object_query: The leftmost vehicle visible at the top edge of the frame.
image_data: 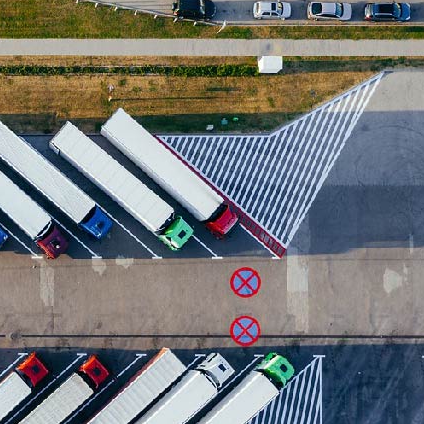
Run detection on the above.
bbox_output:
[175,0,216,21]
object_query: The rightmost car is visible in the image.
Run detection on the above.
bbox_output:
[364,1,409,21]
